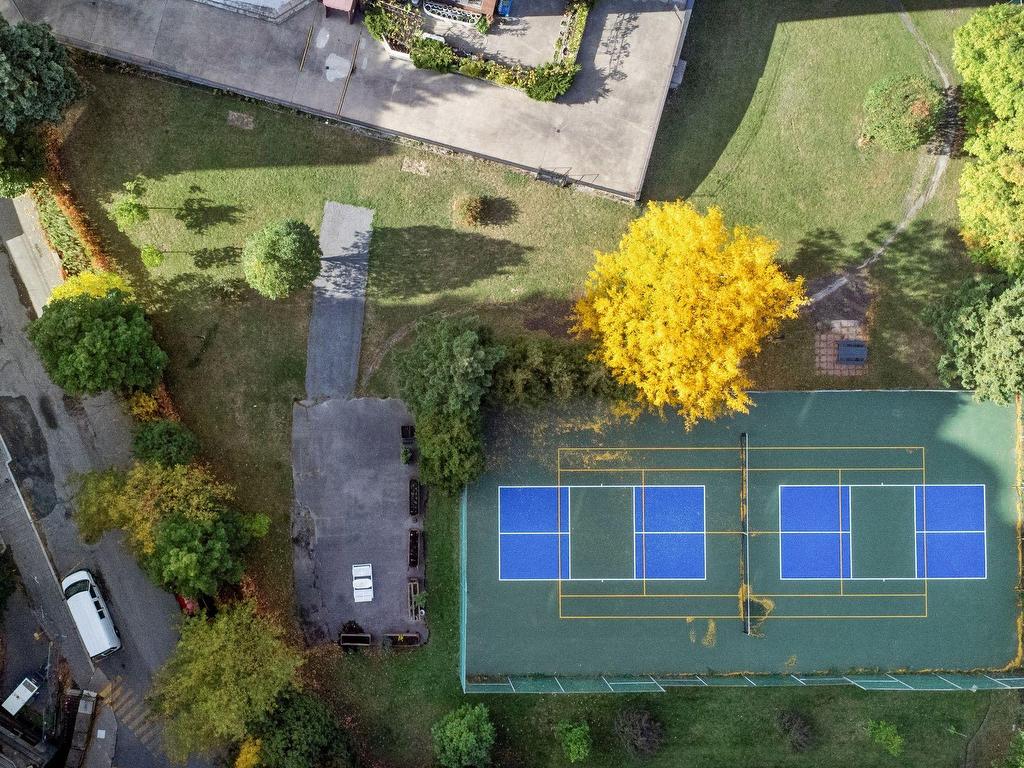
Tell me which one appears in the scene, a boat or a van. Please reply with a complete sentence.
Of the two, only a van appears.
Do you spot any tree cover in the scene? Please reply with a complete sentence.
Yes, there's tree cover in this view.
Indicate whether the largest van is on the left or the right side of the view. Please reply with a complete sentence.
The largest van sits on the left side.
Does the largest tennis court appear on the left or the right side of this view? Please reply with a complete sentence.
It is on the right.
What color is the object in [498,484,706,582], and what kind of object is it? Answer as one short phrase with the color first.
blue sports court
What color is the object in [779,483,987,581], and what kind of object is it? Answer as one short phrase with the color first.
blue sports court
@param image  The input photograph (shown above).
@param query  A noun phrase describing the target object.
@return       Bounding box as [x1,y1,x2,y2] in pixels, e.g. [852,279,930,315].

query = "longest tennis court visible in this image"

[465,391,1018,678]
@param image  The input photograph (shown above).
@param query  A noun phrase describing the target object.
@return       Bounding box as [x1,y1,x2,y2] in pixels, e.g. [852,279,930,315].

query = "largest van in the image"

[62,570,120,659]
